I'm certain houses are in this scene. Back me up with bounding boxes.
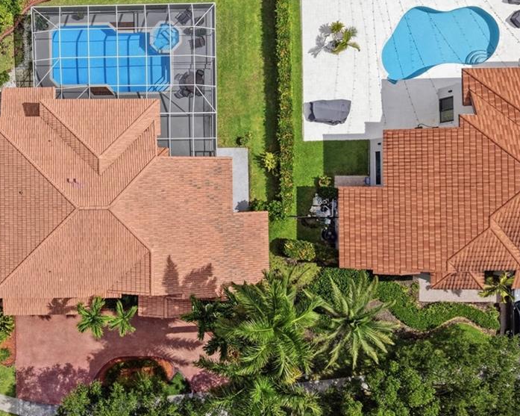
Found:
[0,88,269,319]
[333,67,520,291]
